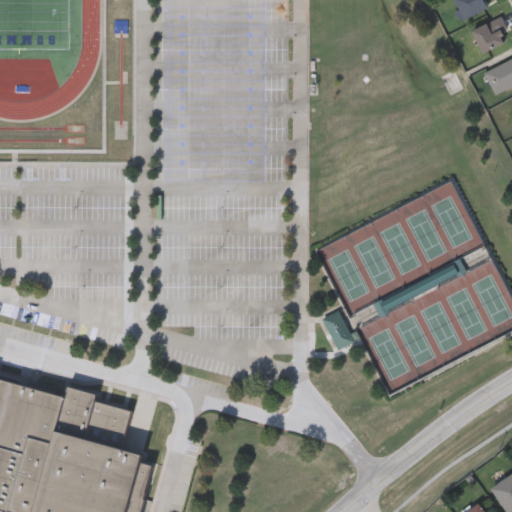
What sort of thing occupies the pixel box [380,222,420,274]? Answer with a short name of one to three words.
tennis court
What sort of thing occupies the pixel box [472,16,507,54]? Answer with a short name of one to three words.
house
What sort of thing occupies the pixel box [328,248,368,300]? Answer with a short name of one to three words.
tennis court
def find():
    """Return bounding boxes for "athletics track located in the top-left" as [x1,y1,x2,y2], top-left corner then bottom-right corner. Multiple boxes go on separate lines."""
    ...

[0,0,102,122]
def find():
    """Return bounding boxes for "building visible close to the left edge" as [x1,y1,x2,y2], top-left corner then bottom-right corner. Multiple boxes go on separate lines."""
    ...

[0,377,153,512]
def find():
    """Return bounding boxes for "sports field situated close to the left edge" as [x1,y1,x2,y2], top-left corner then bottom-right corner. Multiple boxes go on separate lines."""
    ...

[0,0,82,102]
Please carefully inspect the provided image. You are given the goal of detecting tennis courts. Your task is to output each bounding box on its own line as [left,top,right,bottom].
[369,328,410,380]
[406,209,446,262]
[472,276,512,328]
[432,196,472,248]
[380,222,420,274]
[395,315,436,367]
[421,302,462,354]
[447,288,488,341]
[328,248,368,300]
[354,236,394,288]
